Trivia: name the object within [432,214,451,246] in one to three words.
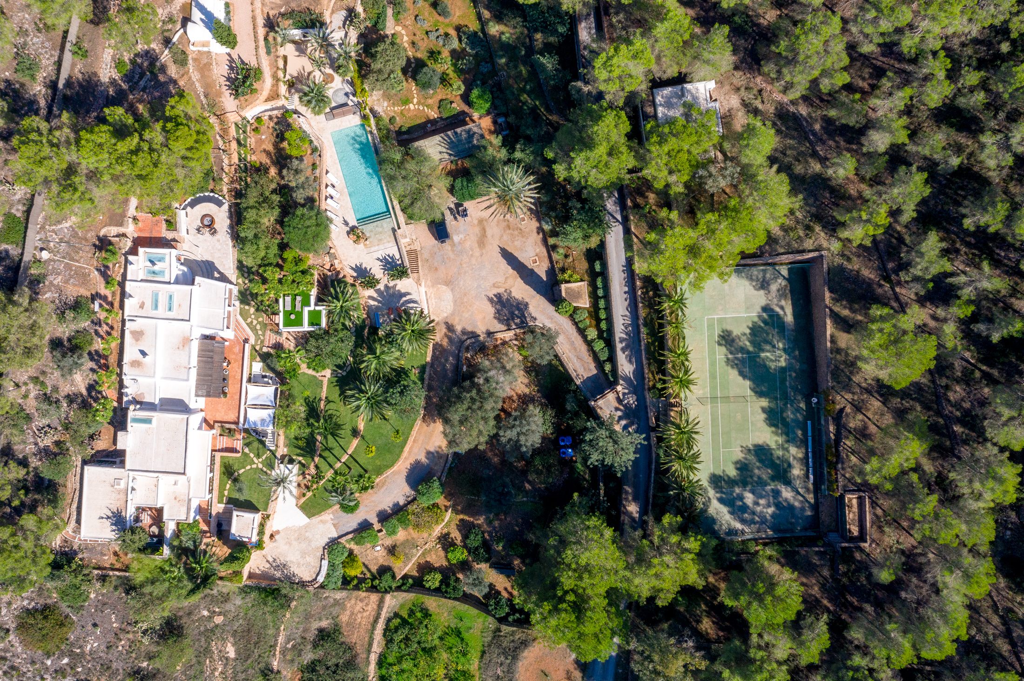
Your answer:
car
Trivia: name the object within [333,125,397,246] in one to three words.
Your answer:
swimming pool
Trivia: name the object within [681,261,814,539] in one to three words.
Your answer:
tennis court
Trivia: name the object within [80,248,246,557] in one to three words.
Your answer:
house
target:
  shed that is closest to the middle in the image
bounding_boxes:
[559,281,589,308]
